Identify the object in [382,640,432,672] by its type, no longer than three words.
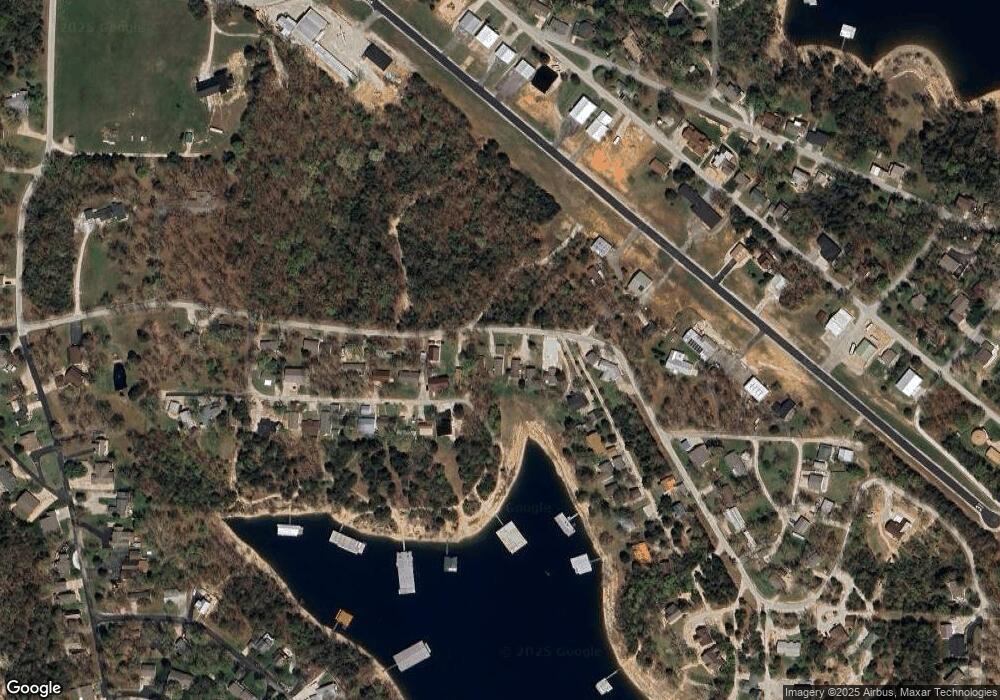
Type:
pier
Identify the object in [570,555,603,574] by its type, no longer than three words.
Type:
pier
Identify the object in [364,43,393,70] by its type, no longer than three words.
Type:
hangar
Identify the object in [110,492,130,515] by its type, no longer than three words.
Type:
house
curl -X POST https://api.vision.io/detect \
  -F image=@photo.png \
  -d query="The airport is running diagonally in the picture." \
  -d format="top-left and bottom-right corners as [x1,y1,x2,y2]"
[354,0,1000,531]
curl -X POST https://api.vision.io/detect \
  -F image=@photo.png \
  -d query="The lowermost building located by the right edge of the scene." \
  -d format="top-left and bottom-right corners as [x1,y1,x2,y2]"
[945,672,970,696]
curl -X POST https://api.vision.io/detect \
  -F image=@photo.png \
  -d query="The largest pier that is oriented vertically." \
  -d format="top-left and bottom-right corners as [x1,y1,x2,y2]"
[396,537,414,595]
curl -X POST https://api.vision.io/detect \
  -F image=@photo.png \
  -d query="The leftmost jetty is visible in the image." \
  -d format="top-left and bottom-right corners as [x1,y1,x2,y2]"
[277,509,305,537]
